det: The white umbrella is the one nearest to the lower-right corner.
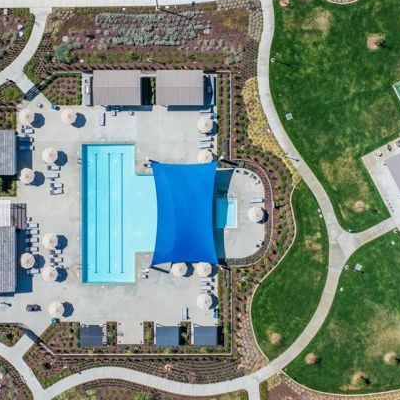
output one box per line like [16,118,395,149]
[198,294,214,310]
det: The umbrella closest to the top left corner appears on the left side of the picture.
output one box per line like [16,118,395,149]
[20,108,36,124]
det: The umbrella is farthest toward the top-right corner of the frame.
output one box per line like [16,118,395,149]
[198,117,214,133]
